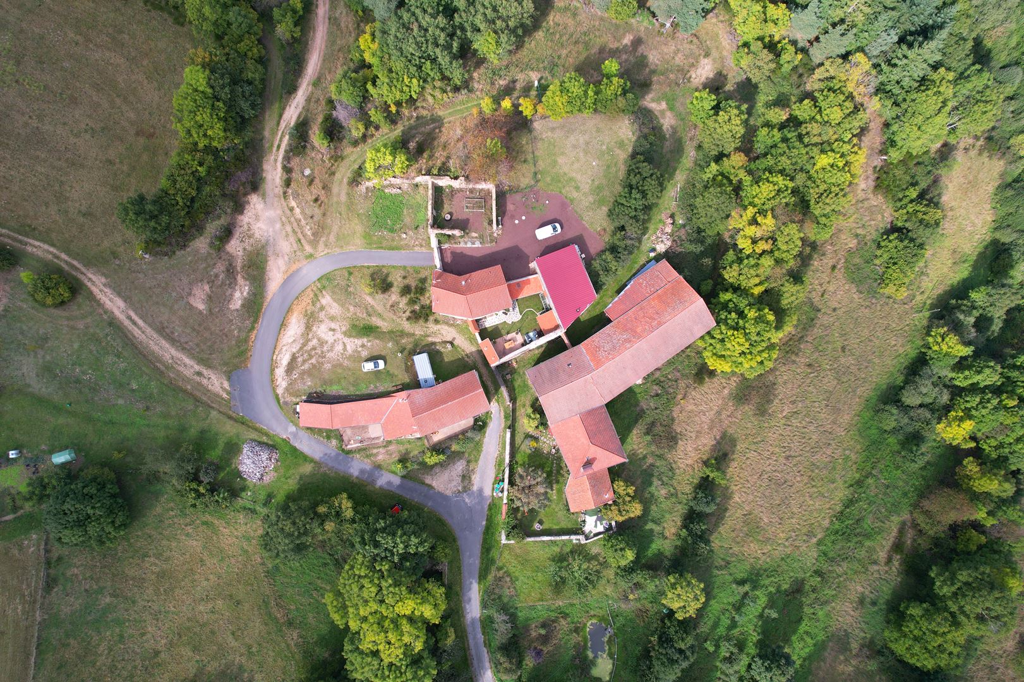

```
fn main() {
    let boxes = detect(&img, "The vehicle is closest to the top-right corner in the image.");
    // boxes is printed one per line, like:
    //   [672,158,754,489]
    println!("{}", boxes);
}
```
[534,224,561,241]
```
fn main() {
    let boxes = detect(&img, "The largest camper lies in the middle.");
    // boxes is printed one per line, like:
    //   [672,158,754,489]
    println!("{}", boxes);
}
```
[413,349,435,386]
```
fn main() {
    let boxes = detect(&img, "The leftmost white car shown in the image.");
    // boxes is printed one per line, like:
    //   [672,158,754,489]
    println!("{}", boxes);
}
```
[362,359,385,371]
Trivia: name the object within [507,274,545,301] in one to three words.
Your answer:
shed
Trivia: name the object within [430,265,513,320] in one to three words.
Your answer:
house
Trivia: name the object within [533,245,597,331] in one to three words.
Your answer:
barn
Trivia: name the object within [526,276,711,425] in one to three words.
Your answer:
barn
